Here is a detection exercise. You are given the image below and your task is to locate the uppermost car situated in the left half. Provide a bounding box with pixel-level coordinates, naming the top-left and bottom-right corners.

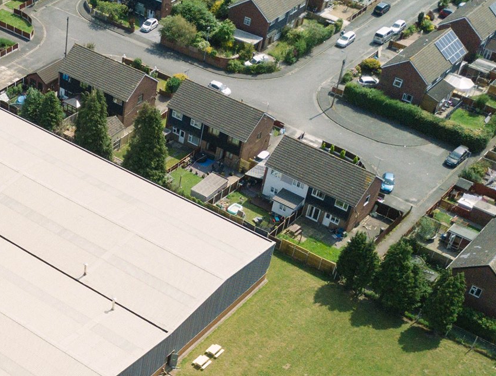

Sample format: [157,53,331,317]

[140,18,160,32]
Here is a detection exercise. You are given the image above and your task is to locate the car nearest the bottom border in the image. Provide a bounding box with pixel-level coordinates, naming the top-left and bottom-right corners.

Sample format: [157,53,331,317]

[381,172,395,193]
